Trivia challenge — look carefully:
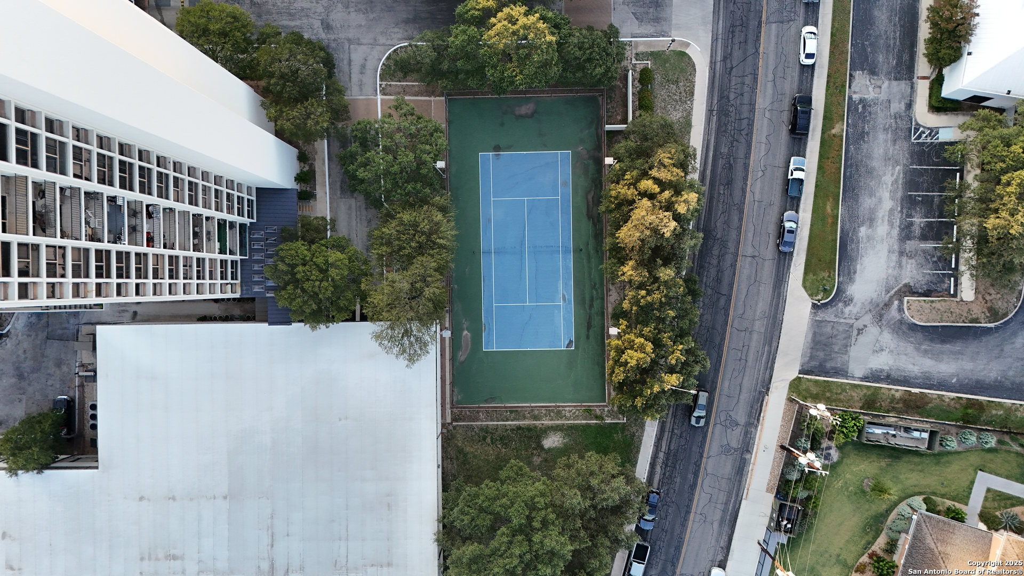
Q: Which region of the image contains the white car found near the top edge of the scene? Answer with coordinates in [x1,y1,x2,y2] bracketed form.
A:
[799,24,822,66]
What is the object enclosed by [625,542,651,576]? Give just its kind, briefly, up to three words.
truck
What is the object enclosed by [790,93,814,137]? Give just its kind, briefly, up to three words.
car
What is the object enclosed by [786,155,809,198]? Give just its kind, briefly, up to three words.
truck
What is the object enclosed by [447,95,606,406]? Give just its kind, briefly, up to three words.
tennis court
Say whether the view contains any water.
No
